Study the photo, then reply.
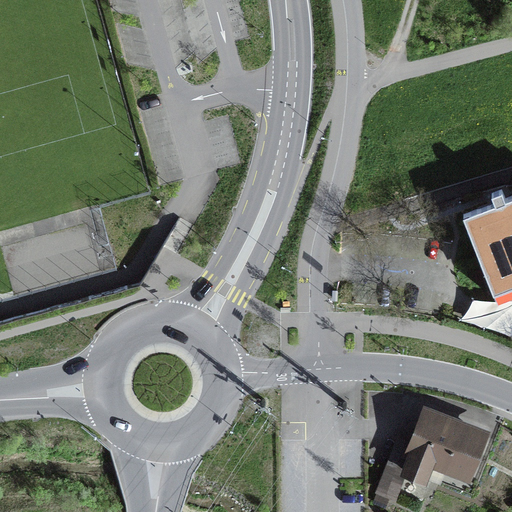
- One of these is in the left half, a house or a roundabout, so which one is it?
roundabout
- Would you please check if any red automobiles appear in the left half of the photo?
No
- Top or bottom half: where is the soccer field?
top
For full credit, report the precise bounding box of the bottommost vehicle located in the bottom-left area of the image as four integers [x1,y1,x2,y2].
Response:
[113,418,134,433]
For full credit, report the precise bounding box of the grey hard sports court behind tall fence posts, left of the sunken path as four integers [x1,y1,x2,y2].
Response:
[0,207,116,296]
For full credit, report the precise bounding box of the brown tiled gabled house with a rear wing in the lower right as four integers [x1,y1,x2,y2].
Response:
[402,406,490,487]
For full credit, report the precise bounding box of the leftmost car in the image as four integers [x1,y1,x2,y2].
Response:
[64,359,90,374]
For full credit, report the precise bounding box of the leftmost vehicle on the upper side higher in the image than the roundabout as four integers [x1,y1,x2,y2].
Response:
[138,97,160,109]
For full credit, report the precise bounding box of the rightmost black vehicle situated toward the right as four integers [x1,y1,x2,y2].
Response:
[406,284,418,308]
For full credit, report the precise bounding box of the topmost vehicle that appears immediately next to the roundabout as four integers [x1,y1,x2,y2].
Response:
[194,278,212,302]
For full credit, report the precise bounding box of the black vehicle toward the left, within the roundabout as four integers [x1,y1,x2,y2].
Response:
[164,326,188,344]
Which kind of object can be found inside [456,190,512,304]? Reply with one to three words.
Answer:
building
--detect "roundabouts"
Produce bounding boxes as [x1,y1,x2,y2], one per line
[82,302,244,464]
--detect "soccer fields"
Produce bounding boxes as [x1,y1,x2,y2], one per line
[0,0,150,231]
